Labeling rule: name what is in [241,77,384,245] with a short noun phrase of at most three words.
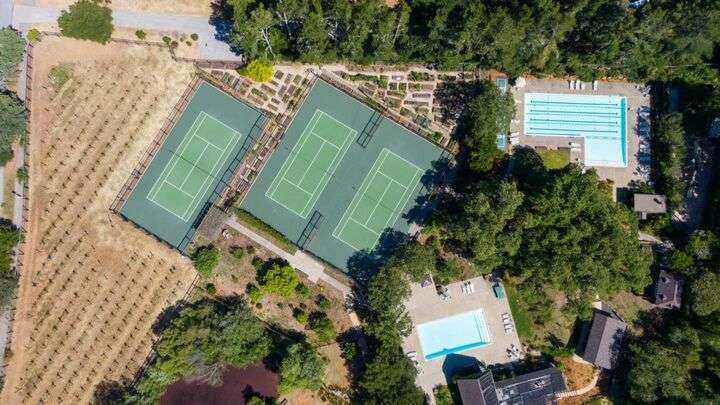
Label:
tennis court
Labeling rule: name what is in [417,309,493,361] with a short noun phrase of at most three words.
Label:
swimming pool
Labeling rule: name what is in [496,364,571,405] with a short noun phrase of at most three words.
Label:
house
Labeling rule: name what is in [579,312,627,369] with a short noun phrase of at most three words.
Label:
house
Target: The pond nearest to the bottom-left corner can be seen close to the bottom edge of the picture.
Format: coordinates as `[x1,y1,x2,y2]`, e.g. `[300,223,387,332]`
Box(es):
[146,349,283,405]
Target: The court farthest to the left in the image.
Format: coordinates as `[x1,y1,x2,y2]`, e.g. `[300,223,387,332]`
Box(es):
[120,81,262,252]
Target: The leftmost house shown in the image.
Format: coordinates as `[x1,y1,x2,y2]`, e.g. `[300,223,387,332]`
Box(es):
[455,366,503,405]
